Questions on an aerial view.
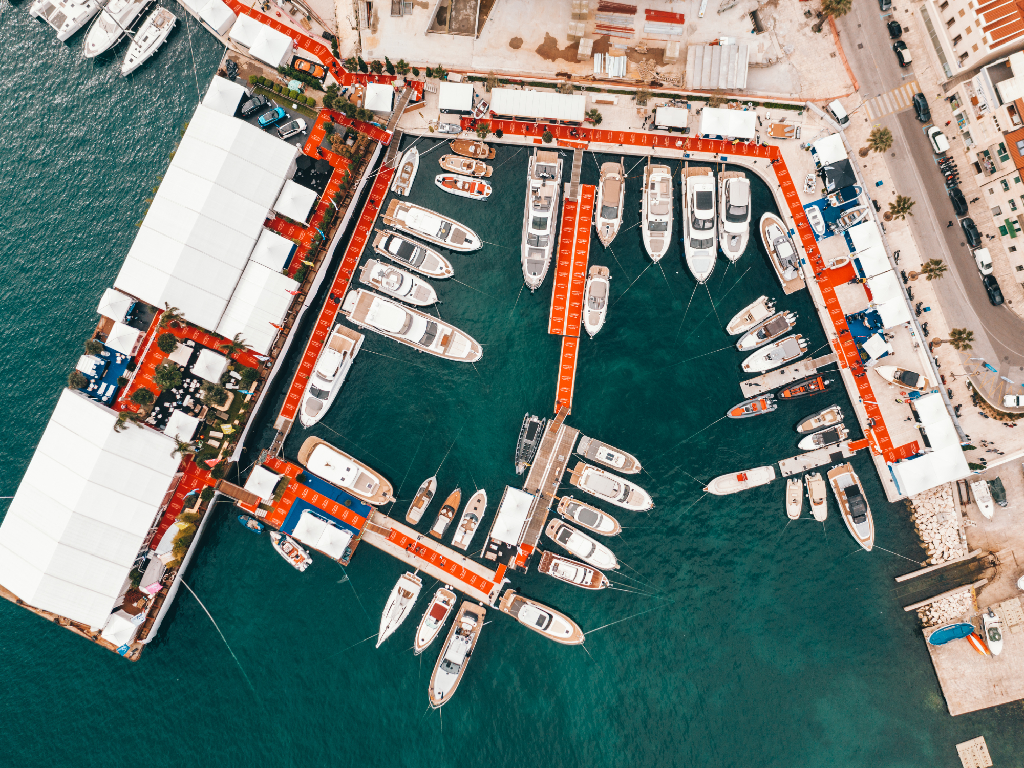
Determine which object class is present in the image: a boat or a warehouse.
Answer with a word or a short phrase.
boat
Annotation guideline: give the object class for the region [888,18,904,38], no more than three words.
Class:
car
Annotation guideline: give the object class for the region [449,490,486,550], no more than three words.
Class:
boat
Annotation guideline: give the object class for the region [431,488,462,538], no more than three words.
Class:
boat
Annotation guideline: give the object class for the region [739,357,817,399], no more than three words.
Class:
pier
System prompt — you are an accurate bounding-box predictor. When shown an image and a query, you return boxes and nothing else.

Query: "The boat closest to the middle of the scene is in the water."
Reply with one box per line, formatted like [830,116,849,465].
[515,417,544,474]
